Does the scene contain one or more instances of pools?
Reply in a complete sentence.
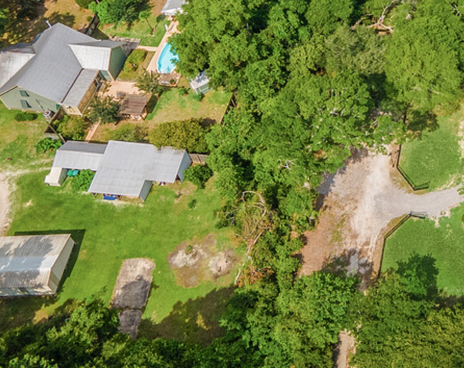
Yes, you can see a pool in this photo.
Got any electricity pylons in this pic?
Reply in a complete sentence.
No, this view has no electricity pylon in it.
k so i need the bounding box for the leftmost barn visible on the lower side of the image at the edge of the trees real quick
[0,234,76,298]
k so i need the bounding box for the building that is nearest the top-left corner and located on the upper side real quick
[0,18,129,116]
